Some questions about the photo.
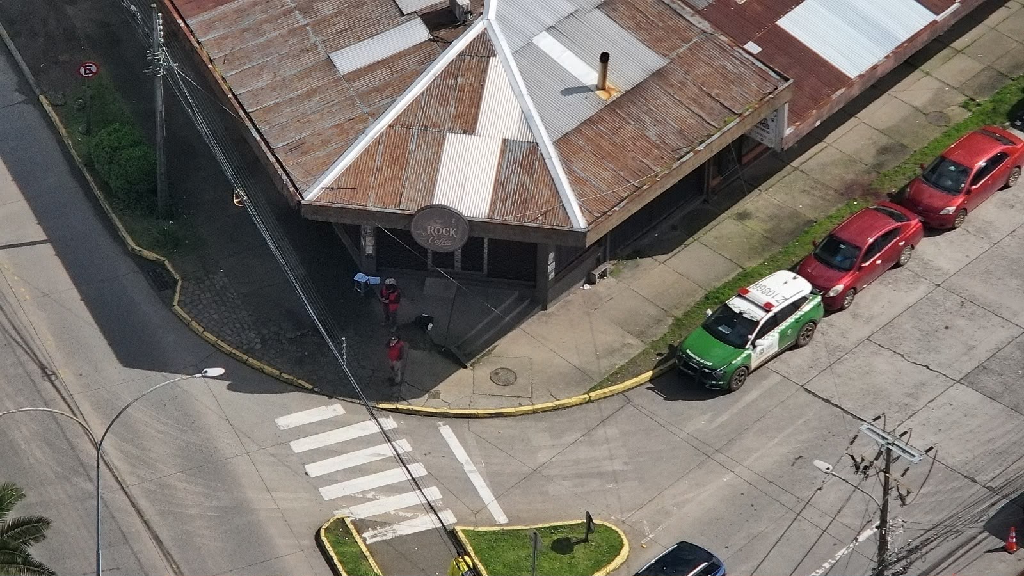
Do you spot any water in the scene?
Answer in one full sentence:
No, there's no water in this view.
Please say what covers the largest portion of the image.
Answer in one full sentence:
What you mostly see from above here is paved ground.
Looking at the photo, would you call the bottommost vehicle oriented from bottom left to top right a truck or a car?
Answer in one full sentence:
I'd identify the bottommost vehicle oriented from bottom left to top right as a car.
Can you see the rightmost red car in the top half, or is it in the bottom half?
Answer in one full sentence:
Seen from above, the rightmost red car lies in the top half of the view.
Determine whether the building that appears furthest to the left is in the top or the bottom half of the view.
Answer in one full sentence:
Seen from above, the building that appears furthest to the left lies in the top half of the view.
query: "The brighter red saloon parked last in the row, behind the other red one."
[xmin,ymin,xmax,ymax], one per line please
[901,126,1024,231]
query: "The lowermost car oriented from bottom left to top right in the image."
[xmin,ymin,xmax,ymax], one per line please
[673,275,825,394]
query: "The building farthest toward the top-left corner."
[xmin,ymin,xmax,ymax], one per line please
[154,0,793,310]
